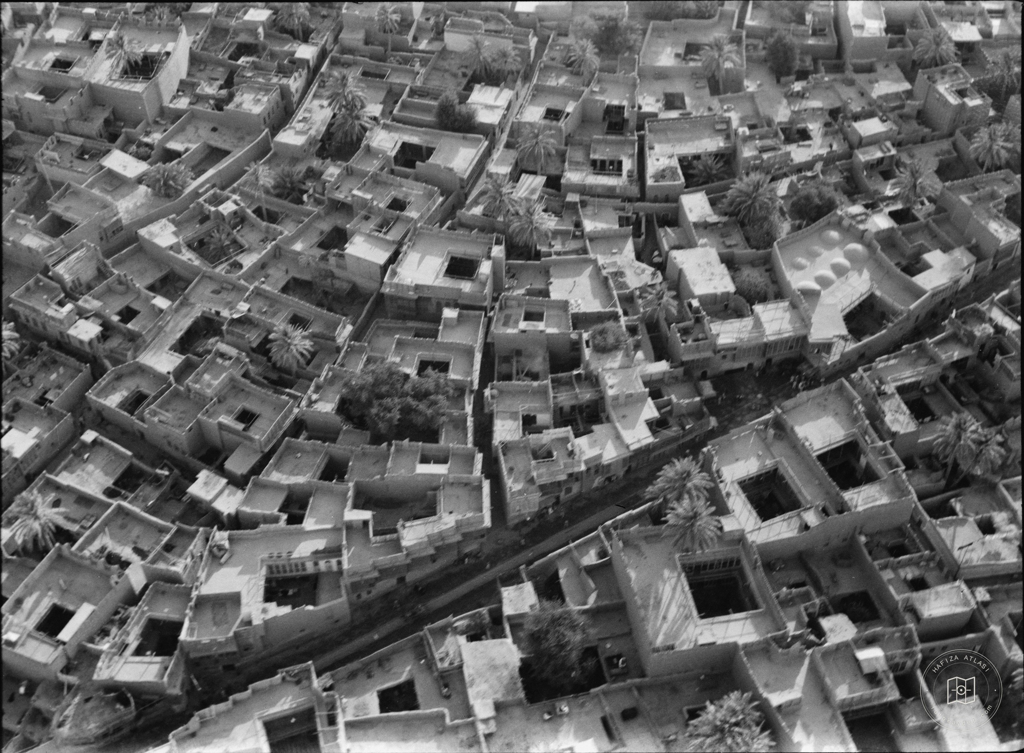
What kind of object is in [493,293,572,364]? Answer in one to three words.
house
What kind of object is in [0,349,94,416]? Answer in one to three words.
house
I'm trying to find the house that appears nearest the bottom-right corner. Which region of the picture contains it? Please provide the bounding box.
[936,697,1001,753]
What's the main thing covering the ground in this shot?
buildings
